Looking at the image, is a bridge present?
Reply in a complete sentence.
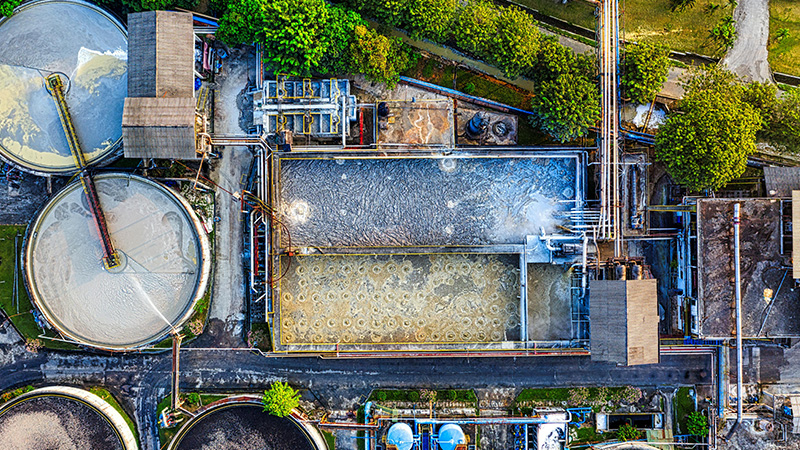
Yes, looking at the shot, I can spot a bridge.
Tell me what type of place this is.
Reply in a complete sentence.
This looks like an industrial area.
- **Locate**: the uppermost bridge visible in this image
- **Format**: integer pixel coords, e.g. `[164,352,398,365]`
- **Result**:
[50,77,91,167]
